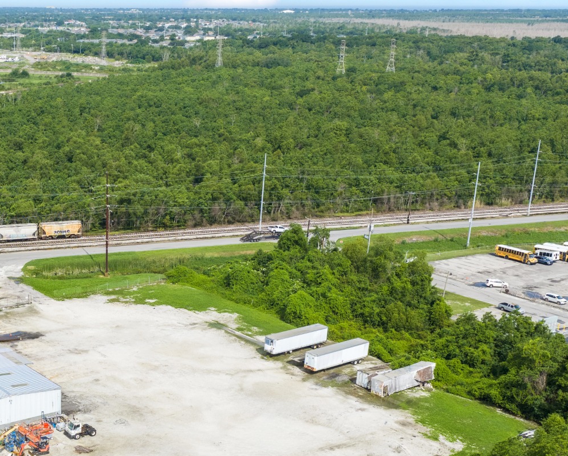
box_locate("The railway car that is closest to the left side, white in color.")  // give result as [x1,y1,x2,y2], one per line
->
[0,223,39,241]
